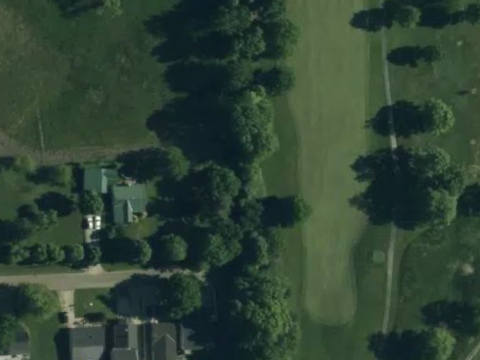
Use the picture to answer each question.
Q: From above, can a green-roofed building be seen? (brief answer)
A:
Yes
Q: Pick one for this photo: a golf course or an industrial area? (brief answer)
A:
golf course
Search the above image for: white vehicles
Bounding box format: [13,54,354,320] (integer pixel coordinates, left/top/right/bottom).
[95,216,100,228]
[87,216,93,229]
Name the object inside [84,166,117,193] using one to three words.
building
